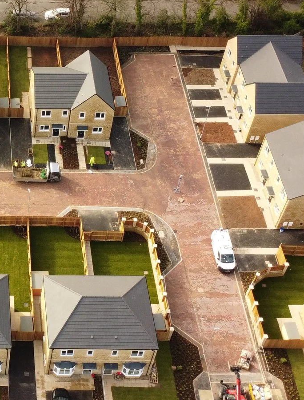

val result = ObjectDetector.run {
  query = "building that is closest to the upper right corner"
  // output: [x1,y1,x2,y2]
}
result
[216,34,304,141]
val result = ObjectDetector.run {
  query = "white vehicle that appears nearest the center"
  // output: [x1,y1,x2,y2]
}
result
[212,228,236,272]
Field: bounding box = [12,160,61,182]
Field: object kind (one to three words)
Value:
truck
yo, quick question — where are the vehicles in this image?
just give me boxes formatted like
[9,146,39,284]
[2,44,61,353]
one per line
[218,360,249,400]
[42,7,72,18]
[51,388,69,400]
[12,160,61,182]
[212,228,236,272]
